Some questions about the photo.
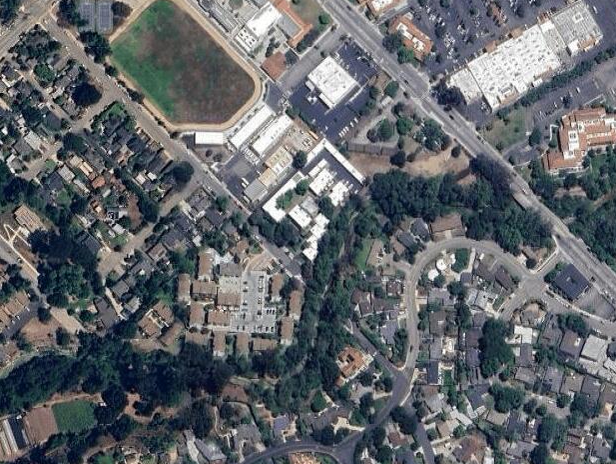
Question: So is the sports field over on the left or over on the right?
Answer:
left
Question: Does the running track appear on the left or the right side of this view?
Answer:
left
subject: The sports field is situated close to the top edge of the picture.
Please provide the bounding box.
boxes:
[104,0,262,131]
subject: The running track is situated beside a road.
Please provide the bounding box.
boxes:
[104,0,262,131]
